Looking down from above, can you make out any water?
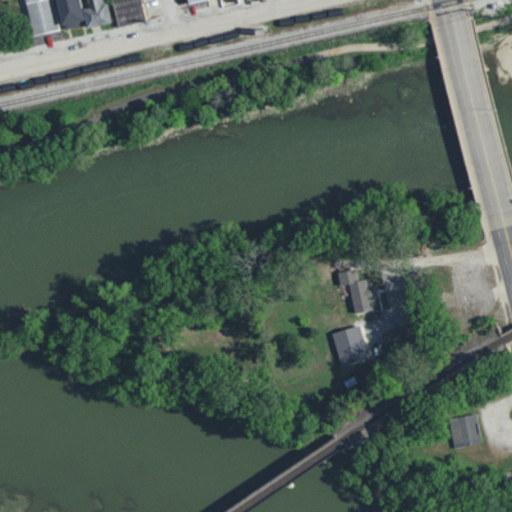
Yes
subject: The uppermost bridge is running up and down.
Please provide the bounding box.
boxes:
[429,10,512,220]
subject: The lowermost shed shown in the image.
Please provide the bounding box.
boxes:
[450,414,482,448]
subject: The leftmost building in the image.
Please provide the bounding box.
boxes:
[26,0,63,38]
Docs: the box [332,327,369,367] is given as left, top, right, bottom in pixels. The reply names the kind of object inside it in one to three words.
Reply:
building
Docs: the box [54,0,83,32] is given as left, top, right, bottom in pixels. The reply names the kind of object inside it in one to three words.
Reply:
house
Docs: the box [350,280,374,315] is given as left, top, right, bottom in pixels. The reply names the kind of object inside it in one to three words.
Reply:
house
